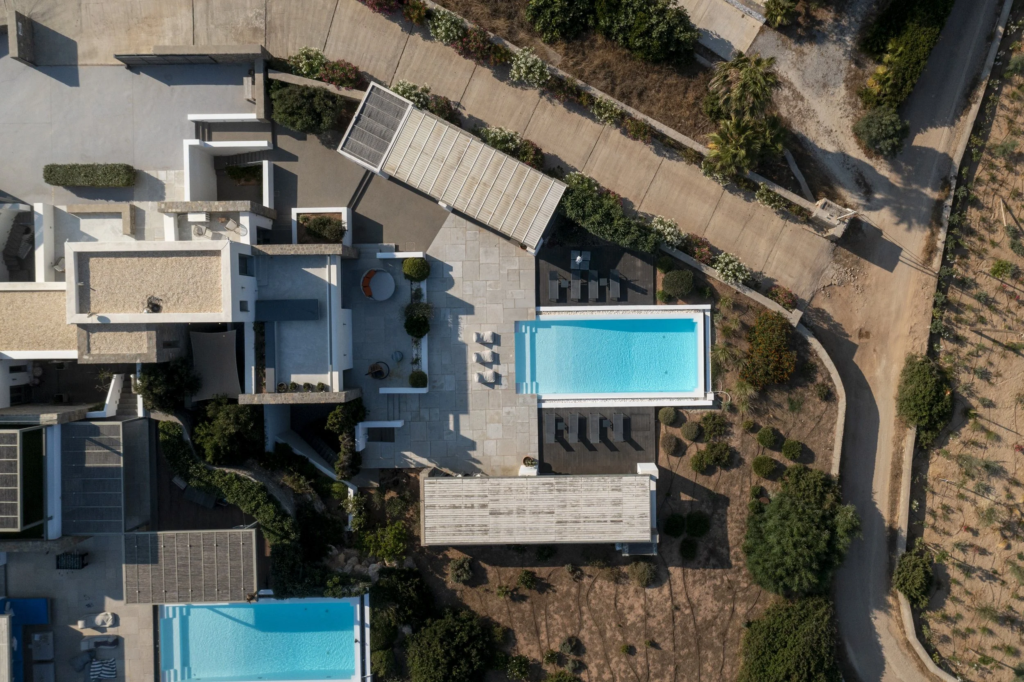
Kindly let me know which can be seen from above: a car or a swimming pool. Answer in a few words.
swimming pool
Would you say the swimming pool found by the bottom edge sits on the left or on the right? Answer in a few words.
left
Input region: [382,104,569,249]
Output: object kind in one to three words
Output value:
building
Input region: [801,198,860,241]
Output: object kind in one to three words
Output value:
shed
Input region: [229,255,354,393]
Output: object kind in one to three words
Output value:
house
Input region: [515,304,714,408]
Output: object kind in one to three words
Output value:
swimming pool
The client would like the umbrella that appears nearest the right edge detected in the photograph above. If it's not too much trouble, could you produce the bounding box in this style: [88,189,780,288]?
[571,250,591,270]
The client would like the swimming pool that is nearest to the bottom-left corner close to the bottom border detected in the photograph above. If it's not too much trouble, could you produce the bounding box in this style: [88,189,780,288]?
[147,587,371,682]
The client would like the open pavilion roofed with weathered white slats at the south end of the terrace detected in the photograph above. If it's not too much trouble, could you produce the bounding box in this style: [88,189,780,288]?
[420,464,659,546]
